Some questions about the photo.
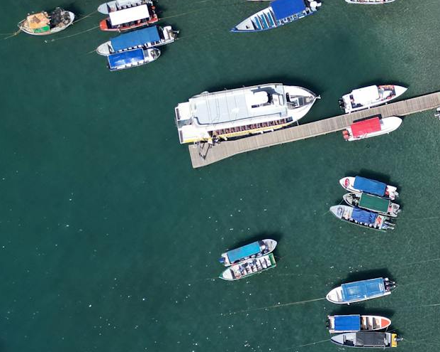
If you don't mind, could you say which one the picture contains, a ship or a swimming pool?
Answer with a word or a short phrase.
ship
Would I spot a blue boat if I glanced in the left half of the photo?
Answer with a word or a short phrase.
Yes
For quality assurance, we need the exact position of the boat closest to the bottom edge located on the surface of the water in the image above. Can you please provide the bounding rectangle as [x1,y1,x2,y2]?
[332,332,403,347]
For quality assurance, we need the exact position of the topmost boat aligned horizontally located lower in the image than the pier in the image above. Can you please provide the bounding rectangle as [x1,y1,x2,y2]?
[339,177,403,201]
